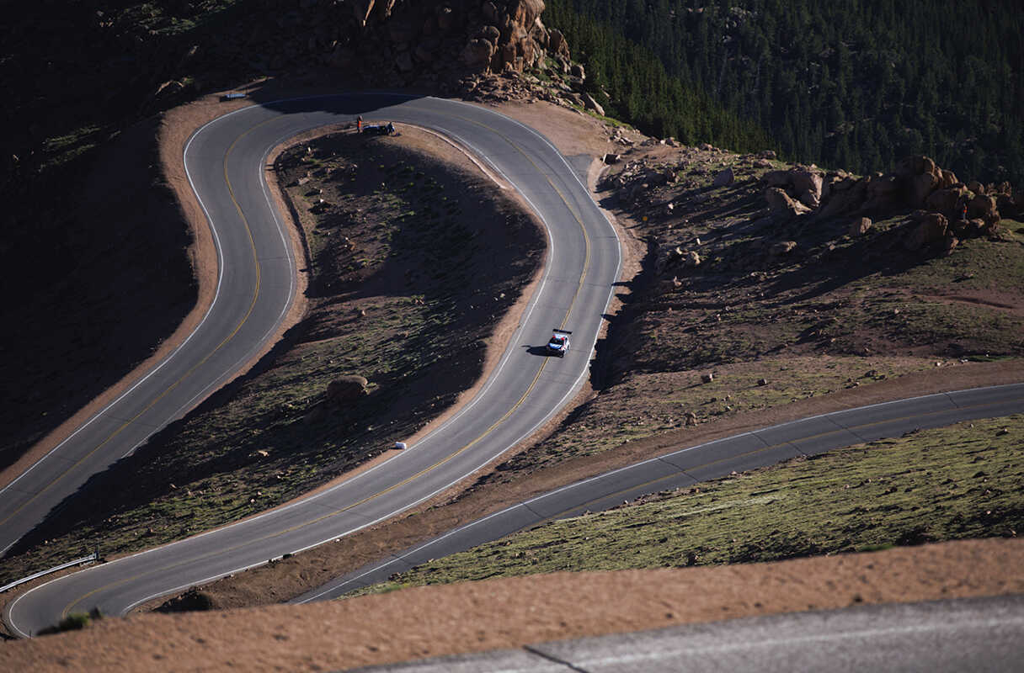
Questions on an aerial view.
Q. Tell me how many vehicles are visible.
1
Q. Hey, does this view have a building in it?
No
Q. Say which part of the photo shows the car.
center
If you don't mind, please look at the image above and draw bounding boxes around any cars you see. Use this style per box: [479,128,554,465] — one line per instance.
[544,325,575,361]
